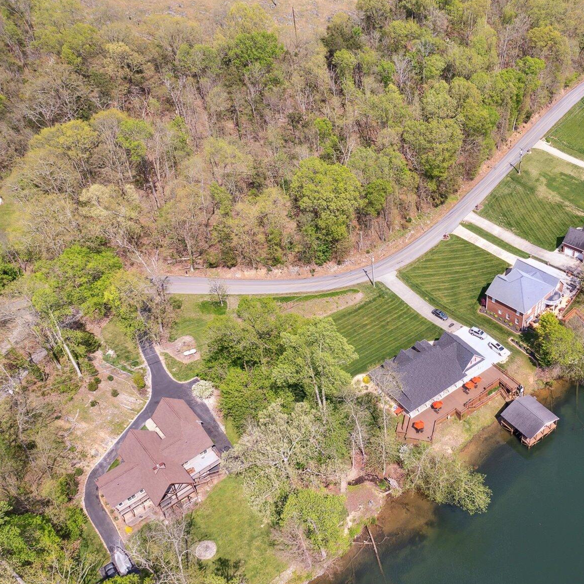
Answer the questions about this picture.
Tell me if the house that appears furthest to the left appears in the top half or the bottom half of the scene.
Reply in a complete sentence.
You can find the house that appears furthest to the left in the bottom half.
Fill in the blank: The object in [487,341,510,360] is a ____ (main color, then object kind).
white car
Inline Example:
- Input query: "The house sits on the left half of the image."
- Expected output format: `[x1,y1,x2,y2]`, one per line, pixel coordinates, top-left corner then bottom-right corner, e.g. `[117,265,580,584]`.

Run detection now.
[94,396,234,538]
